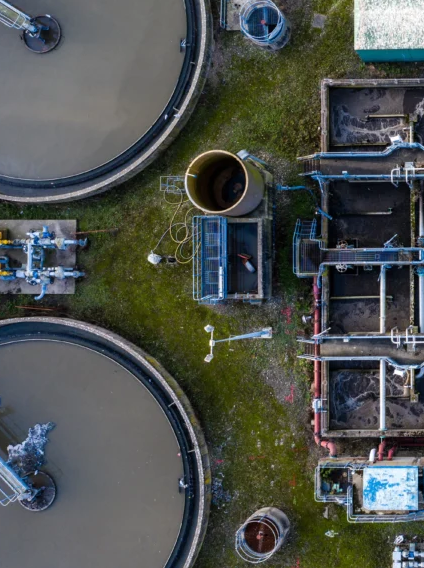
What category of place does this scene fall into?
industrial area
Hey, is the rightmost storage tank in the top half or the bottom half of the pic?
top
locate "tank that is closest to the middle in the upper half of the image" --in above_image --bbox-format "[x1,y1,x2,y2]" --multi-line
[160,149,274,218]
